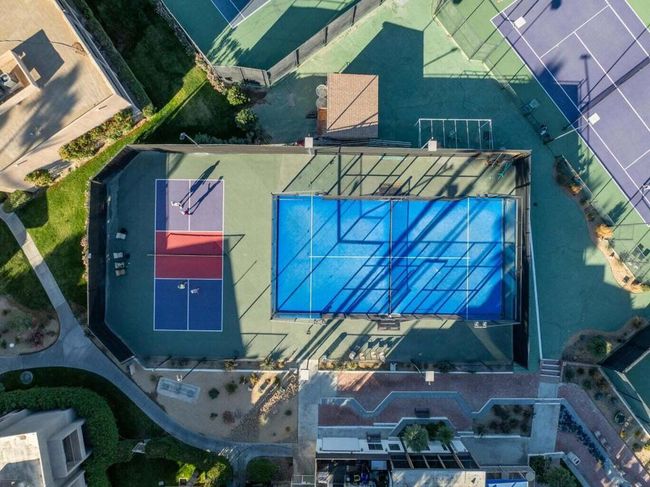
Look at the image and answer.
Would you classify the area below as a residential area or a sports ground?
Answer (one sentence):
It's a sports ground.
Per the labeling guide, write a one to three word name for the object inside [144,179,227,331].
sports court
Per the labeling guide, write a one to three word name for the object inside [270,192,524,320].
sports court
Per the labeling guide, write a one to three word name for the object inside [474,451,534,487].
building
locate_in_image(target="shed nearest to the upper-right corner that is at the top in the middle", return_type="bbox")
[326,74,378,143]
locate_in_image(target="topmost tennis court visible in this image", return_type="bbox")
[168,0,381,83]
